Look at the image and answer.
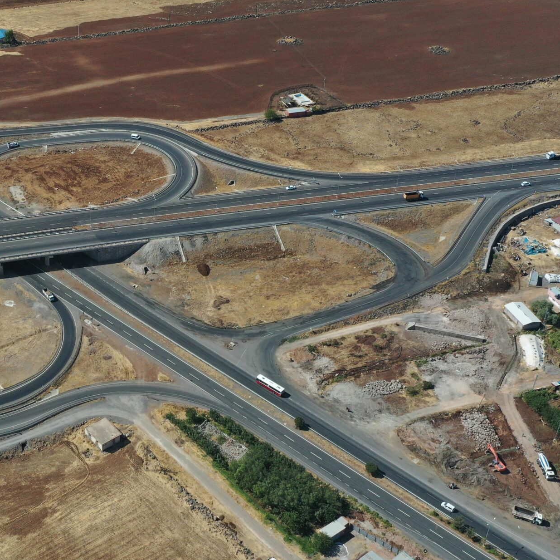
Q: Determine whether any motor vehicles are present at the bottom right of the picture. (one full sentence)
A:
Yes, looking at the bottom right of the picture, one can make out a motor vehicle.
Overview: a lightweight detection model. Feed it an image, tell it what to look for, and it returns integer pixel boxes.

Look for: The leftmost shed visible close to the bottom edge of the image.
[320,515,345,543]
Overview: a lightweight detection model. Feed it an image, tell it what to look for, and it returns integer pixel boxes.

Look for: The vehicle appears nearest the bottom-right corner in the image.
[515,508,543,524]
